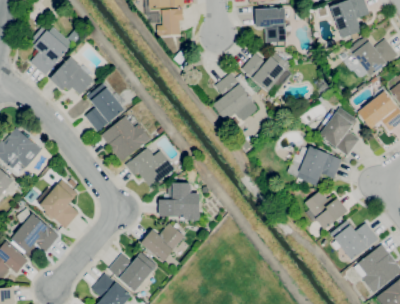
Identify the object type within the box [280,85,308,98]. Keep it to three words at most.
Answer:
swimming pool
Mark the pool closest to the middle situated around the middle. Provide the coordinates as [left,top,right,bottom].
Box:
[158,134,180,160]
